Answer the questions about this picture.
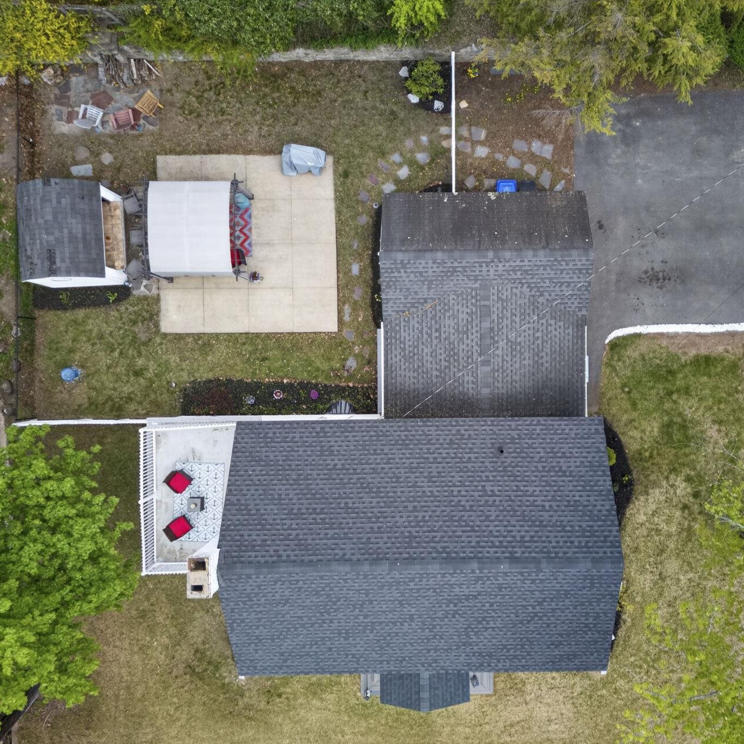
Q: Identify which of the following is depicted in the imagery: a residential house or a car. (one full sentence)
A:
Of the two, only a residential house appears.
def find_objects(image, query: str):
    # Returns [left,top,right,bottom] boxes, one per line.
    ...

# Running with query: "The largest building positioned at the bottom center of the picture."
[187,417,624,679]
